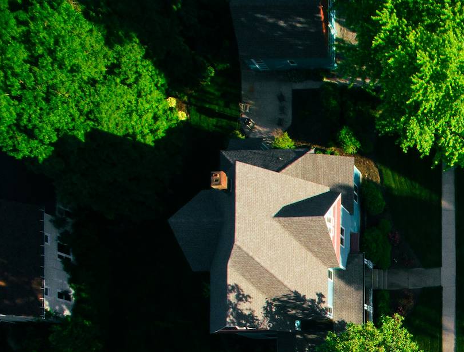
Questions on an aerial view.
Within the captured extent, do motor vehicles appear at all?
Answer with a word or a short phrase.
No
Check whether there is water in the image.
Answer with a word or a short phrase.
No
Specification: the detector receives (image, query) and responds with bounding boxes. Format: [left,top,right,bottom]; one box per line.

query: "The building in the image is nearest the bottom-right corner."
[169,139,385,352]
